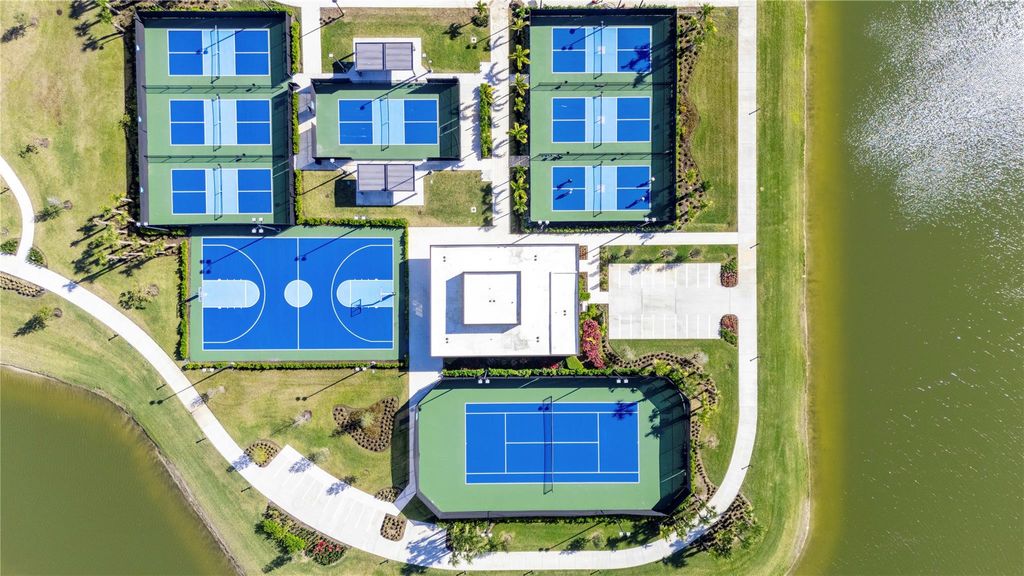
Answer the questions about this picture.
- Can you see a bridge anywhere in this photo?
No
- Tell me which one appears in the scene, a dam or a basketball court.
basketball court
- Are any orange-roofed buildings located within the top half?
No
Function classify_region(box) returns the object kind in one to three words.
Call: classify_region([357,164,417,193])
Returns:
building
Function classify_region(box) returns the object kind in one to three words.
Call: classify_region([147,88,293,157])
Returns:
sports court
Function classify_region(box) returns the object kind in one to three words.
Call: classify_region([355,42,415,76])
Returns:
building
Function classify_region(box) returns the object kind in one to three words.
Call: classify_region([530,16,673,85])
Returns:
sports court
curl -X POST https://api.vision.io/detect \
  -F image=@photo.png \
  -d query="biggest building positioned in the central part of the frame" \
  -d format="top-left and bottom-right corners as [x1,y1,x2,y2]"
[430,244,580,357]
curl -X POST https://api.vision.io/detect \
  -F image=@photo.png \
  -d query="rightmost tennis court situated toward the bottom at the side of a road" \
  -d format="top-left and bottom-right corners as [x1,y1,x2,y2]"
[418,378,684,511]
